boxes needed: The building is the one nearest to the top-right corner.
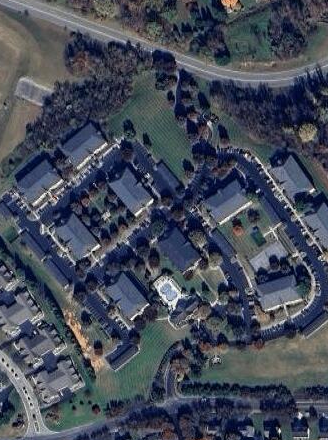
[271,154,316,204]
